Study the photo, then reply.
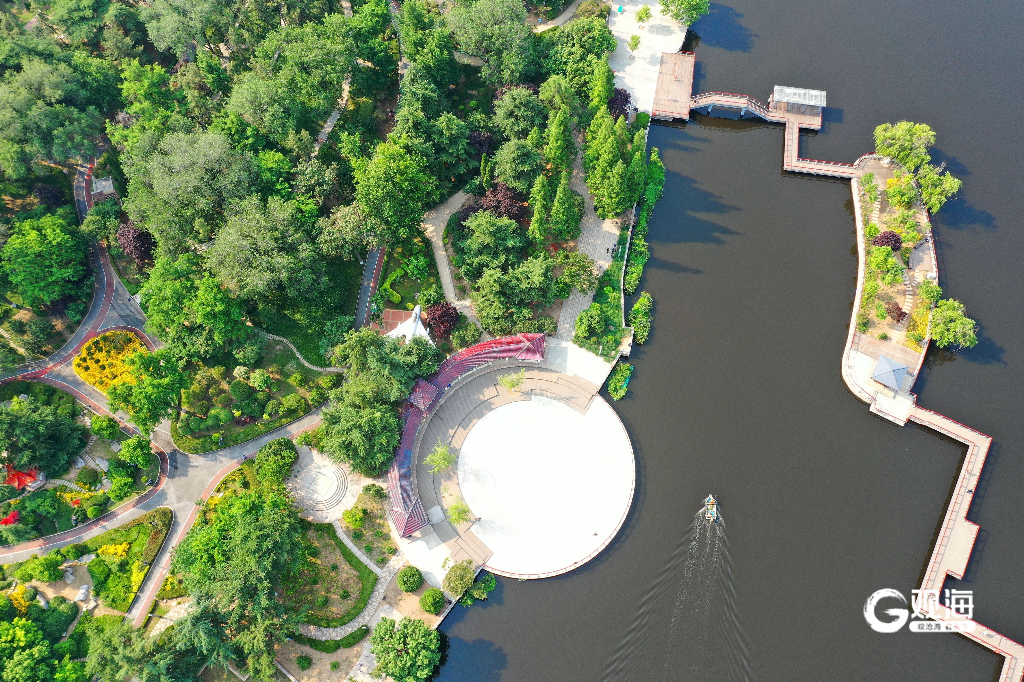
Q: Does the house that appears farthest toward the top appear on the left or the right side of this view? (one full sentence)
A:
It is on the left.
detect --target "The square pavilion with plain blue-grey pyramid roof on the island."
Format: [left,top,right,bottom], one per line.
[867,352,910,394]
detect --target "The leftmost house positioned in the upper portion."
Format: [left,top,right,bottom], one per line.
[90,175,122,210]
